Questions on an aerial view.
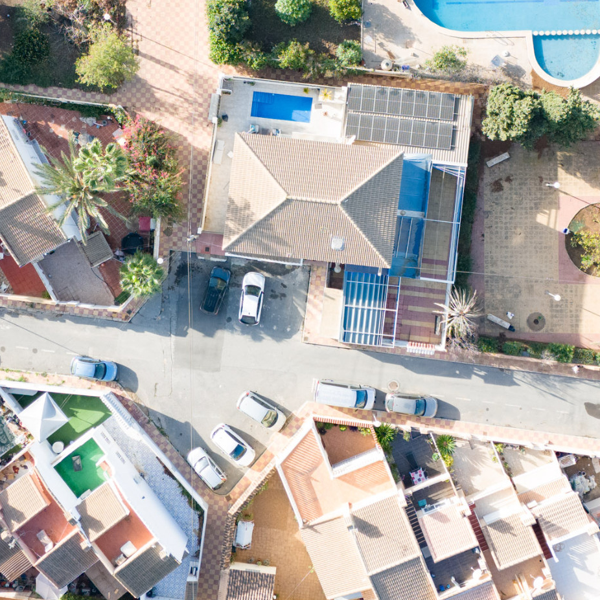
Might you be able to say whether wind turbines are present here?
No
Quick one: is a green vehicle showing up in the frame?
No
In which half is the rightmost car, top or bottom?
bottom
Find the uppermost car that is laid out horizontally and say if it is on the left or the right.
left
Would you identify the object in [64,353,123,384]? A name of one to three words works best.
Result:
car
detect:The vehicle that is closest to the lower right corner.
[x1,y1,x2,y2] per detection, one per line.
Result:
[383,389,441,421]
